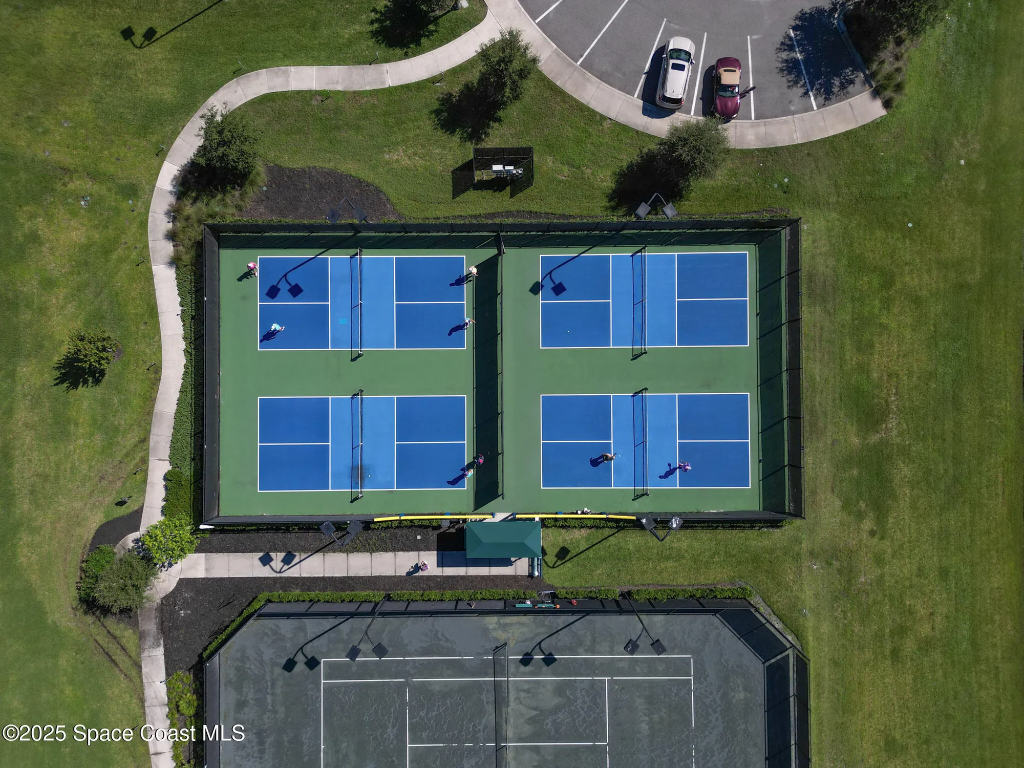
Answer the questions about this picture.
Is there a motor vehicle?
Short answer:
Yes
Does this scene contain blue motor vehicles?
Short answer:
No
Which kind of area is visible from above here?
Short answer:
sports ground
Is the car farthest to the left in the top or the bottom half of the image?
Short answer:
top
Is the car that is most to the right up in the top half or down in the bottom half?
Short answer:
top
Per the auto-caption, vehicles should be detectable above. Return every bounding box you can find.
[655,35,696,112]
[711,58,757,122]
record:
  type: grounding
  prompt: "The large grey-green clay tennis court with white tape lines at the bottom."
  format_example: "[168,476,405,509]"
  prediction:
[218,596,798,768]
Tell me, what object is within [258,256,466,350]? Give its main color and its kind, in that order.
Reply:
blue sports court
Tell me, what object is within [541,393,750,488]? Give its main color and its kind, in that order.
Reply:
blue sports court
